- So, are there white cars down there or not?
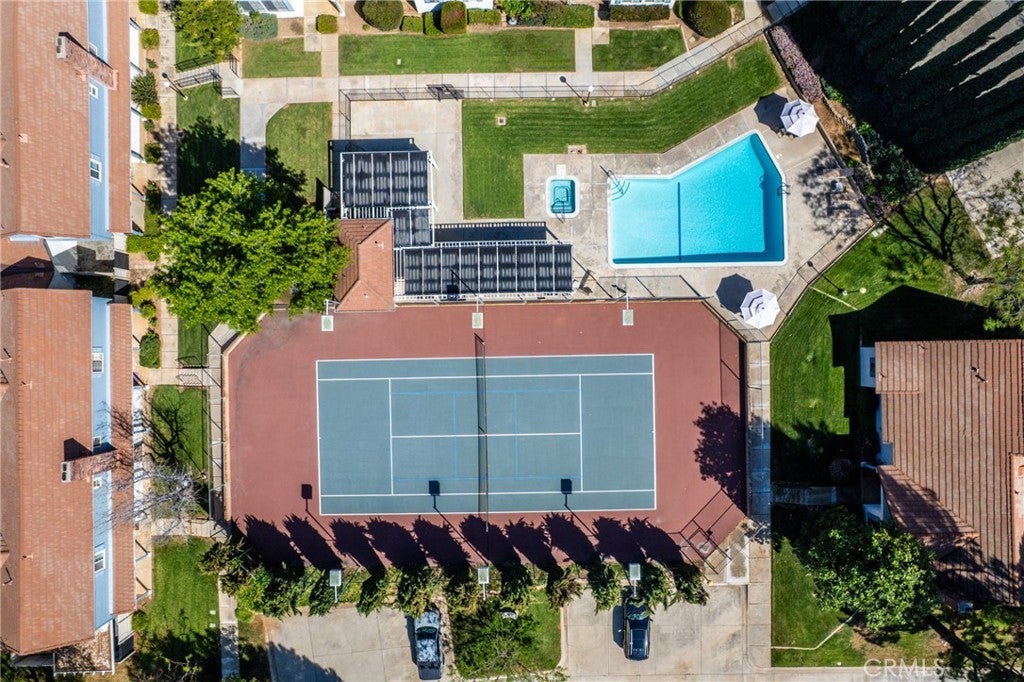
No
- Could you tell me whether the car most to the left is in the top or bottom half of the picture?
bottom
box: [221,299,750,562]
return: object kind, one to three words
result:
tennis court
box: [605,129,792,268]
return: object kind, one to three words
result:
swimming pool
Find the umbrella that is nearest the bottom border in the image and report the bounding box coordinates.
[739,289,779,328]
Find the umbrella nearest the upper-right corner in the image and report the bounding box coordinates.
[779,99,818,138]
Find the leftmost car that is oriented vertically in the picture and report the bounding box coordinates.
[410,607,442,680]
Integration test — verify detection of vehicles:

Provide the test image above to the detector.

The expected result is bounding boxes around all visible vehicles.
[410,607,442,680]
[621,593,654,663]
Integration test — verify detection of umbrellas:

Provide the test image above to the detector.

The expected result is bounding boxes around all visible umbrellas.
[779,99,818,138]
[739,289,779,328]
